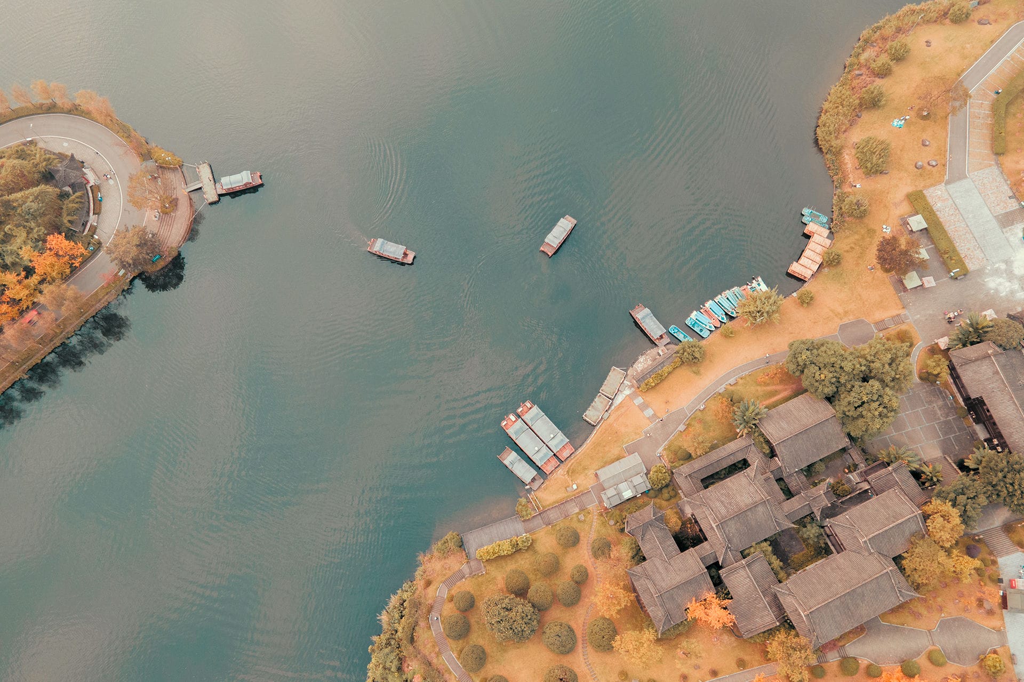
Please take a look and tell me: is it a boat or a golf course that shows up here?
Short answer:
boat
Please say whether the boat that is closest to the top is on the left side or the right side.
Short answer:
left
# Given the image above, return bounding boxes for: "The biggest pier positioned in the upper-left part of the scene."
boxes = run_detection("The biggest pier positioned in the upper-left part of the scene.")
[195,160,219,205]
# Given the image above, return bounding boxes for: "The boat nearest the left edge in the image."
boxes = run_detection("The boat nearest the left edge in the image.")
[215,168,262,192]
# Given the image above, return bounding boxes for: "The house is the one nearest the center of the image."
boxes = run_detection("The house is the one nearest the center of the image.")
[595,453,651,508]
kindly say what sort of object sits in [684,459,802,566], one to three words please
building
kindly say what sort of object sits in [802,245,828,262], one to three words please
boat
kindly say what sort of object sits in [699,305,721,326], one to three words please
boat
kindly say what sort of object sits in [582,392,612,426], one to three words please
pier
